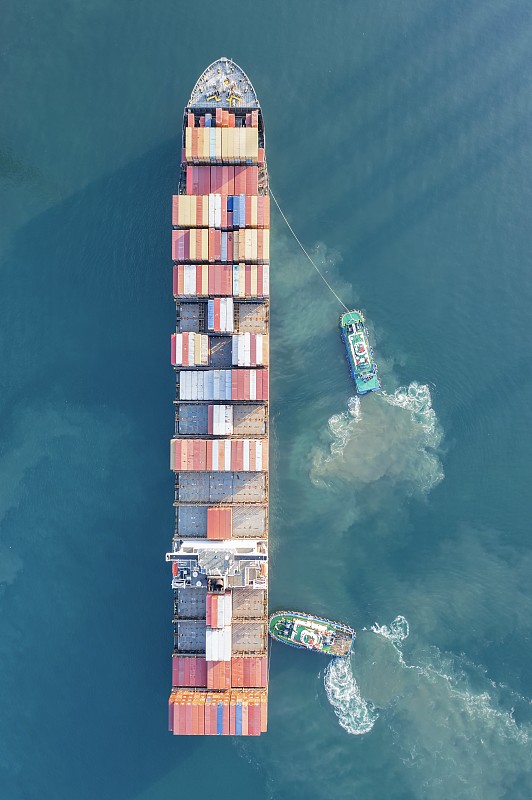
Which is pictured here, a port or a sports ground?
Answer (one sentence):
The area seen from above is a port.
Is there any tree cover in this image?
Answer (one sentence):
No, the picture contains no tree cover.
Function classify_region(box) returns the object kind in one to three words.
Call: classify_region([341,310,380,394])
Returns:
boat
